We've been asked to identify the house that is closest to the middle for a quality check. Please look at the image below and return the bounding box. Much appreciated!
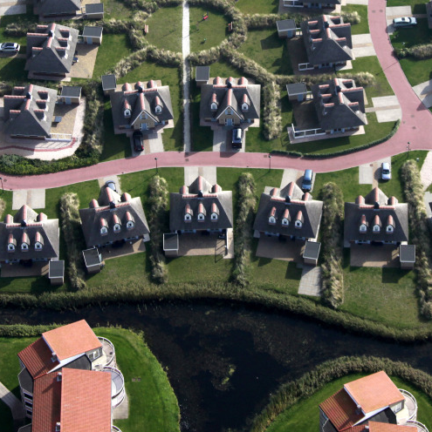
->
[169,176,233,235]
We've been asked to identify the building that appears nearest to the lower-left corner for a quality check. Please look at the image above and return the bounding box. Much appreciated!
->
[17,321,126,432]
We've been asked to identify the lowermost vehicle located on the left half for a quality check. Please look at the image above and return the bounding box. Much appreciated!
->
[104,176,119,194]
